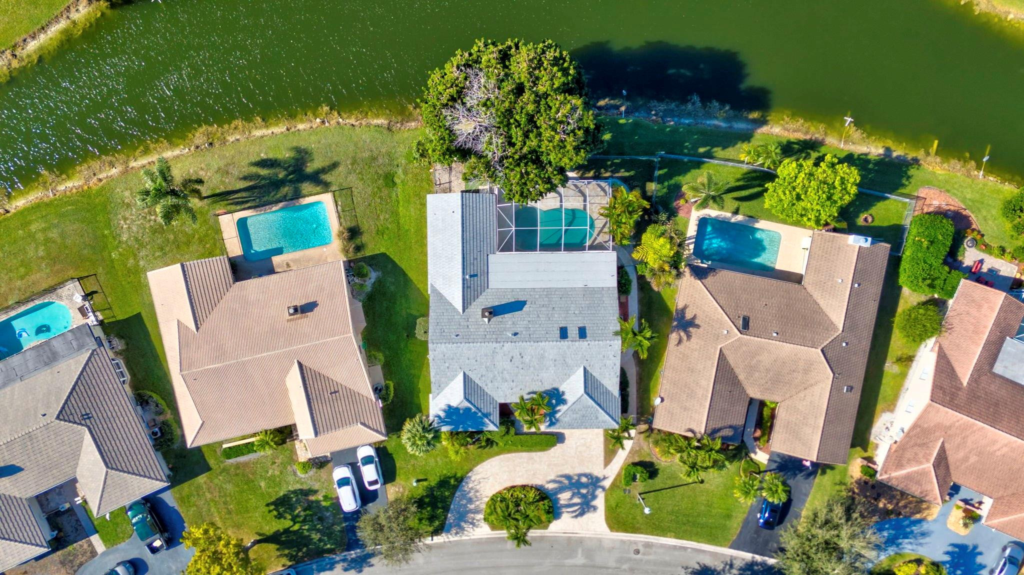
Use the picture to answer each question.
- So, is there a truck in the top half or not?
No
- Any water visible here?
Yes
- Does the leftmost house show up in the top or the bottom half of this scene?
bottom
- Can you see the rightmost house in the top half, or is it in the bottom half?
bottom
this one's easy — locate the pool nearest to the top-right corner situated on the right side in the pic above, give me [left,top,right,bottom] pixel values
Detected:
[691,213,785,275]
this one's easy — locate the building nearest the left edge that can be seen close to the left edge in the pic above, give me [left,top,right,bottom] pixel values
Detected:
[0,322,176,572]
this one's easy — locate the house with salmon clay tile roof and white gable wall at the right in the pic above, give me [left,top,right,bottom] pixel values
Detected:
[870,279,1024,541]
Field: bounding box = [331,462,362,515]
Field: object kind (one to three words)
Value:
car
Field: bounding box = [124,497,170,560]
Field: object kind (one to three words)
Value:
truck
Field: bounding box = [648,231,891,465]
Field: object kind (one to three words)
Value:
house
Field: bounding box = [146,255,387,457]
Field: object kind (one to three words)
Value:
house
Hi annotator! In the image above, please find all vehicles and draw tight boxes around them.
[354,443,384,494]
[124,497,170,560]
[331,462,362,515]
[99,561,140,575]
[989,539,1024,575]
[756,479,789,532]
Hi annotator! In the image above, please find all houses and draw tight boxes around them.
[648,231,891,465]
[0,322,176,572]
[870,279,1024,541]
[426,192,622,432]
[146,255,387,457]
